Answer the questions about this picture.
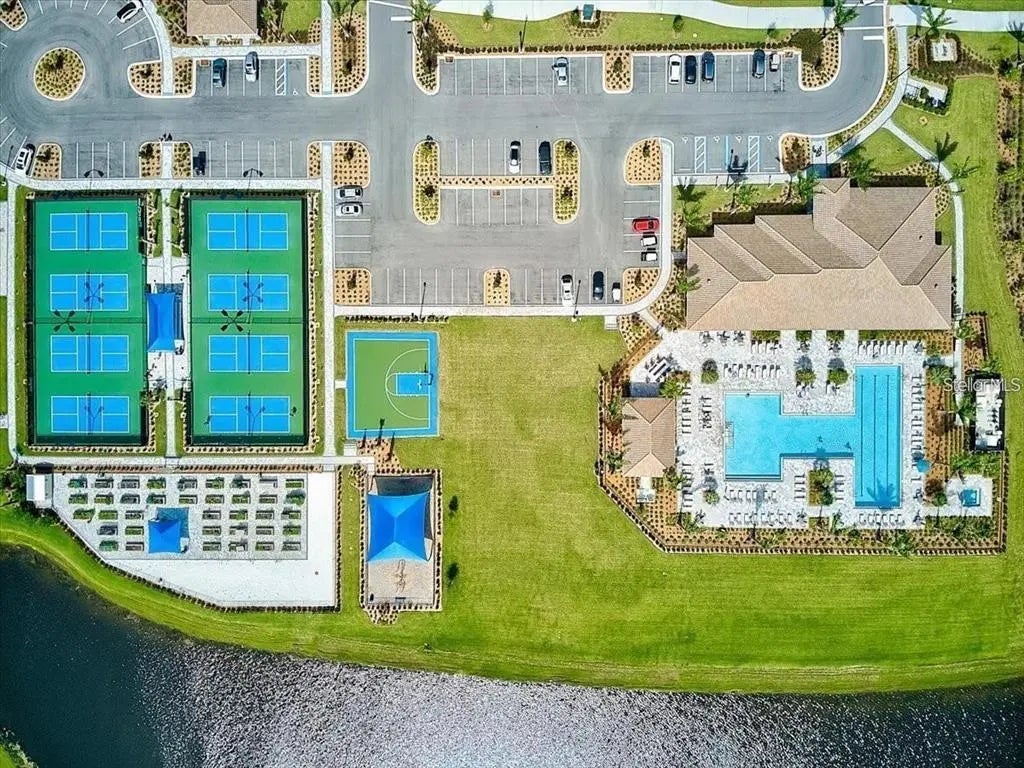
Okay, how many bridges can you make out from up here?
zero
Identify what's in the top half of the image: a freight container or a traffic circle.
traffic circle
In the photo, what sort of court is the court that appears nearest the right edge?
basketball court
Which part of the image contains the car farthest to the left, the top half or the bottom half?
top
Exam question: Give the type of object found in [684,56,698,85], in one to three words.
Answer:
car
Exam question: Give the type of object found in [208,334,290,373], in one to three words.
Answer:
sports court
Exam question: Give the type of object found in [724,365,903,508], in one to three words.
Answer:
swimming pool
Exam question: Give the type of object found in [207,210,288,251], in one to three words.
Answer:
sports court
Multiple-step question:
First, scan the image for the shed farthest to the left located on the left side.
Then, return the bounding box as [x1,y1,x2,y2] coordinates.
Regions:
[24,475,58,501]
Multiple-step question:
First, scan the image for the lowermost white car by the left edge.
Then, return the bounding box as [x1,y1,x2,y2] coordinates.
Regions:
[13,144,37,172]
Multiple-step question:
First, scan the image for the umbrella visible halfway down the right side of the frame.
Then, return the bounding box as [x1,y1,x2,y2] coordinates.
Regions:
[912,458,929,472]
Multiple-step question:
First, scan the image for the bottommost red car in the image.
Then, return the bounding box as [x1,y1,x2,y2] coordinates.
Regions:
[631,220,659,232]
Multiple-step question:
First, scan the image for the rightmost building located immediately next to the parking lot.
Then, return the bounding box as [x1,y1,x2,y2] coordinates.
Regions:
[686,178,952,330]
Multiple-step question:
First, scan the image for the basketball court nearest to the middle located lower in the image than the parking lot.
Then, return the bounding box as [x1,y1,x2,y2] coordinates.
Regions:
[345,331,439,439]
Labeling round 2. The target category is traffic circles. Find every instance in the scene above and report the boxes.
[33,46,85,100]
